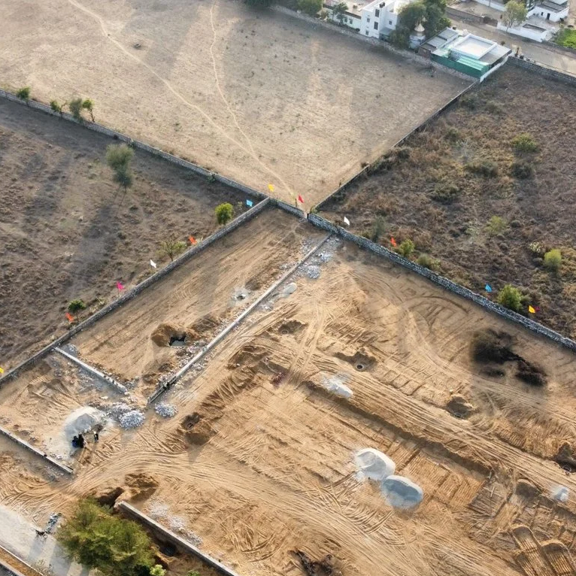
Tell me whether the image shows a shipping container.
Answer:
No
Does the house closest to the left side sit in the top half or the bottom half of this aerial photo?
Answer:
top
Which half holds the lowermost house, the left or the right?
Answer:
right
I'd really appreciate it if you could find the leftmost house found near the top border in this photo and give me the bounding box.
[331,0,376,33]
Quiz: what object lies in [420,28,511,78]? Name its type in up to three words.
house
